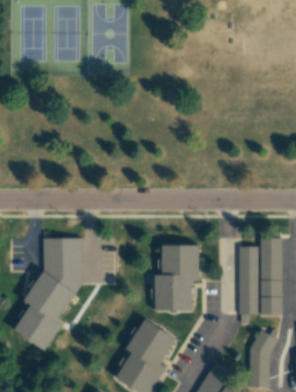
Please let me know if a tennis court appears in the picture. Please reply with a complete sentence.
Yes, the image includes a tennis court.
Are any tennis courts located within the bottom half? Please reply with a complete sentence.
No, the scene shows no tennis court within the bottom half.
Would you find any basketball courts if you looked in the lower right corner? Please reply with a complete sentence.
No, no basketball court can be made out in the lower right corner.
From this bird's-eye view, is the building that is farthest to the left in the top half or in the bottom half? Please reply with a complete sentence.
Seen from above, the building that is farthest to the left lies in the bottom half of the view.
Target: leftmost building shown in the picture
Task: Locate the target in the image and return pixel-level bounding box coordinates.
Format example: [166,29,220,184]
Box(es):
[12,238,82,350]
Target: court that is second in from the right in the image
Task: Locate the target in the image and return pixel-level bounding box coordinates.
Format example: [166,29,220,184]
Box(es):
[52,6,80,60]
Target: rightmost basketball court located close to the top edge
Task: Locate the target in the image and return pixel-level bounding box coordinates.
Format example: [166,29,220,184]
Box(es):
[92,4,128,63]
